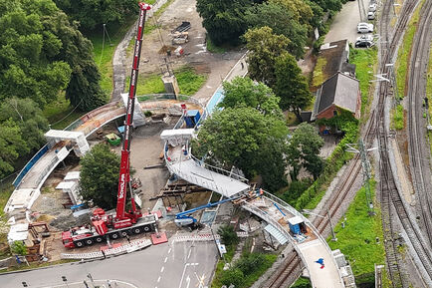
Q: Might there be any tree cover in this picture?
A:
Yes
